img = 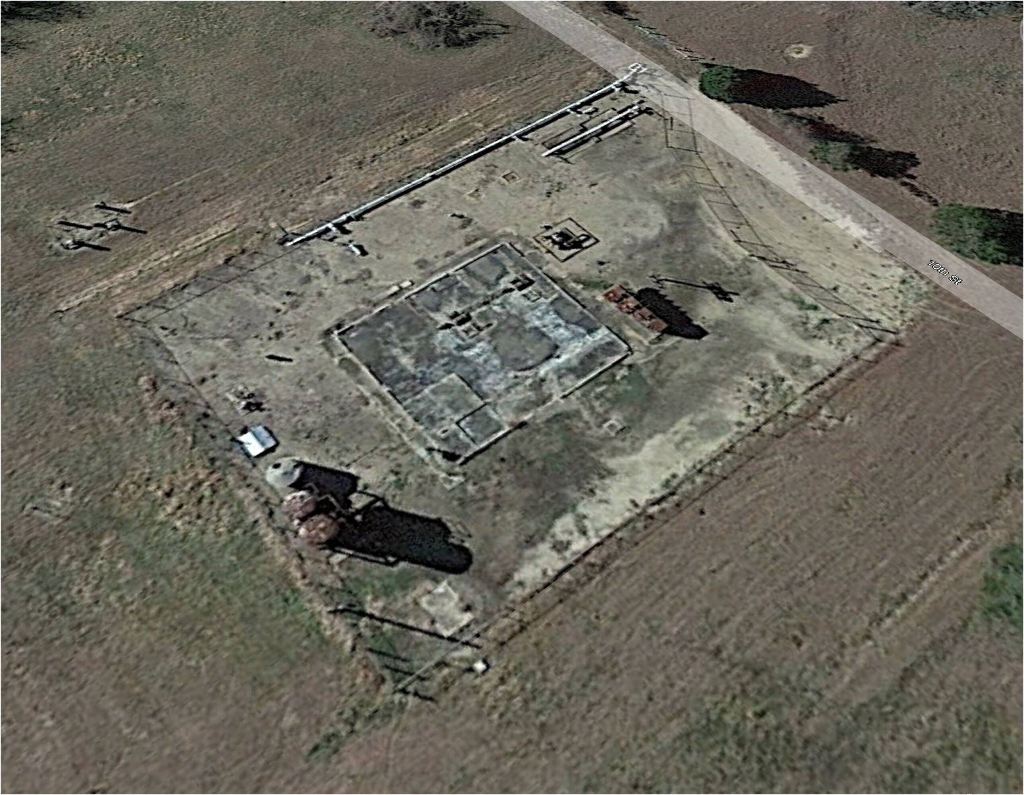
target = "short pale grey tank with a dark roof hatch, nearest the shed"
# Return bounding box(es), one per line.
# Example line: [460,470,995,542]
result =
[264,455,301,493]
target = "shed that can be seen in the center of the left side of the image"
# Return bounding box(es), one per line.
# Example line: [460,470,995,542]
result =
[238,425,276,457]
